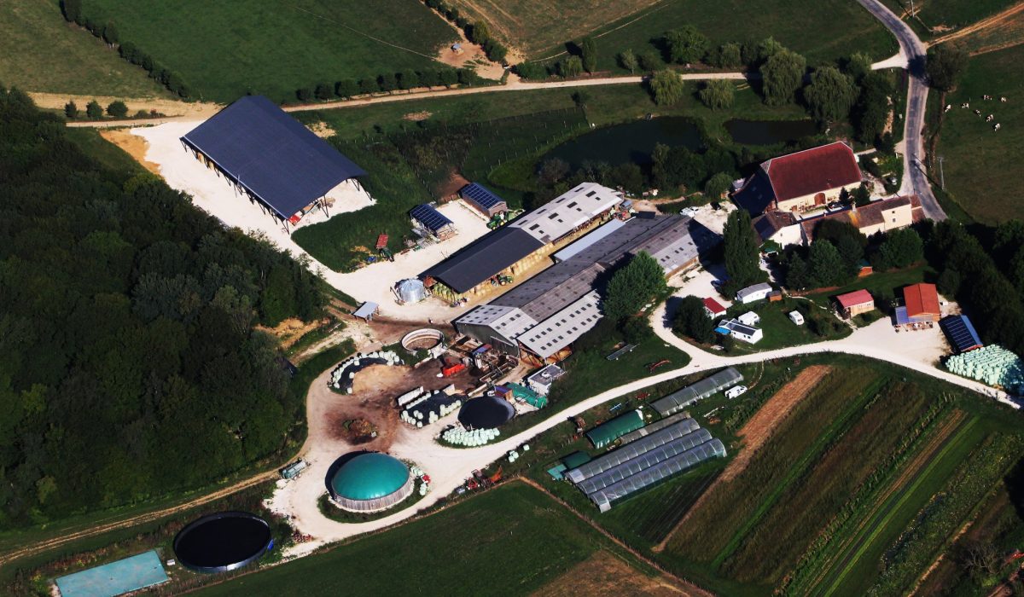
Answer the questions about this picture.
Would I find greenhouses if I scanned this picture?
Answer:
Yes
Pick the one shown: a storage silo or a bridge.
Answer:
storage silo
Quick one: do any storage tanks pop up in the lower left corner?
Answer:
Yes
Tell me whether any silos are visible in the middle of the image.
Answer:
Yes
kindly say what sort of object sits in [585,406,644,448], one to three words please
greenhouse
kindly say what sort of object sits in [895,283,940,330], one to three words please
building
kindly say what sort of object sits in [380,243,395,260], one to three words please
work vehicle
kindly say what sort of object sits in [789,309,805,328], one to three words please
camper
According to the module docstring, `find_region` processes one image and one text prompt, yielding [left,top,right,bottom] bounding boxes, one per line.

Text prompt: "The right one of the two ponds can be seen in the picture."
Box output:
[726,119,818,145]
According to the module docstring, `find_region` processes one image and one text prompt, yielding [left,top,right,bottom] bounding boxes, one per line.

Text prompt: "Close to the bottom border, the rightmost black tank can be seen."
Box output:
[173,509,273,575]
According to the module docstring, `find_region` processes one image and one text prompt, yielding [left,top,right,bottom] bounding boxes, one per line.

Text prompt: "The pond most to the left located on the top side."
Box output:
[538,115,703,169]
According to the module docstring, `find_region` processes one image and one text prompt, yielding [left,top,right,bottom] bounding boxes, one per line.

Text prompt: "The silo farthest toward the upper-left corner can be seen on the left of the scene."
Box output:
[390,280,424,304]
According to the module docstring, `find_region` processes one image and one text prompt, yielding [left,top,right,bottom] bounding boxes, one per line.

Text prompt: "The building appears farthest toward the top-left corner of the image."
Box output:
[184,94,369,232]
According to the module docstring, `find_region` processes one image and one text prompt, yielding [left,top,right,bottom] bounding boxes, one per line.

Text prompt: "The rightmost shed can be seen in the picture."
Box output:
[938,315,983,355]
